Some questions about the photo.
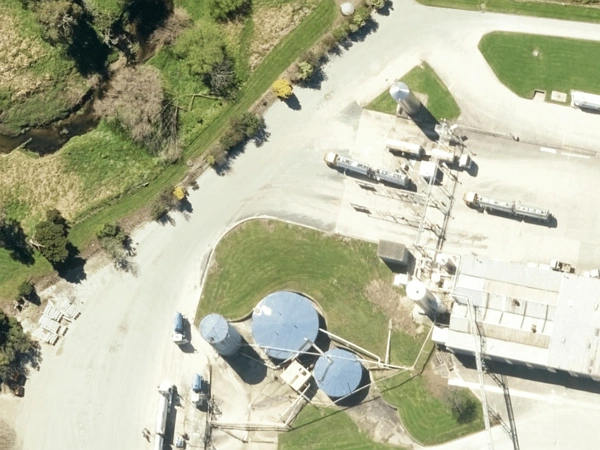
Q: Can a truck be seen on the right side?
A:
Yes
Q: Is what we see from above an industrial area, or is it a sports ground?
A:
industrial area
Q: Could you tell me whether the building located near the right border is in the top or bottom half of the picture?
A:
bottom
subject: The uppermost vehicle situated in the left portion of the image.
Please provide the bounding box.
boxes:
[174,312,188,344]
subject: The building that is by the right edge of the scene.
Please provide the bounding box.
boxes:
[443,253,600,381]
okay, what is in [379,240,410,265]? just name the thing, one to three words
shed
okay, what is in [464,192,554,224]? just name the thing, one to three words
truck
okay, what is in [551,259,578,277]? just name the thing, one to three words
vehicle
